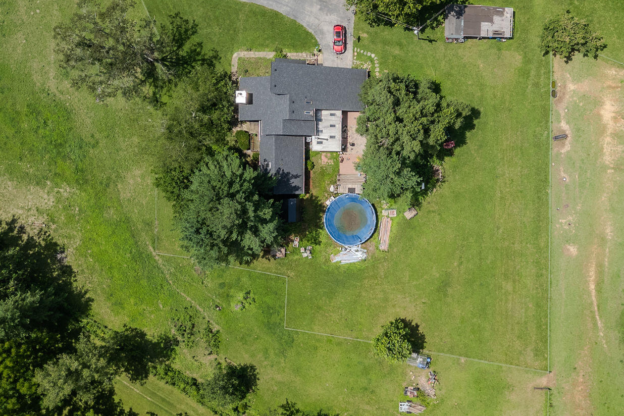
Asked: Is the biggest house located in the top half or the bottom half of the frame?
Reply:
top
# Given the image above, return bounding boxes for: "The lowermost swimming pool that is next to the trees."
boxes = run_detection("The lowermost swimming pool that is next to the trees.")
[324,194,377,246]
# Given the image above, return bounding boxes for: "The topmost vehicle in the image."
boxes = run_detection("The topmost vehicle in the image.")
[332,24,347,55]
